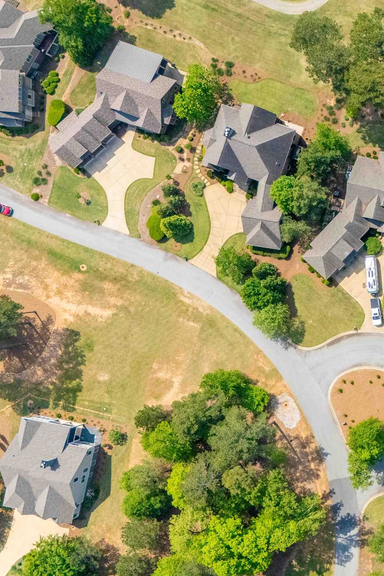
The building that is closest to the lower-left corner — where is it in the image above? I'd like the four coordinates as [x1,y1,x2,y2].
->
[0,414,103,523]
